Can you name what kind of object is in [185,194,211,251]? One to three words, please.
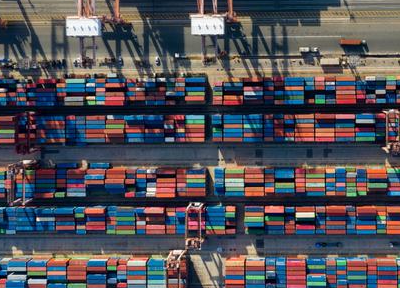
crane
